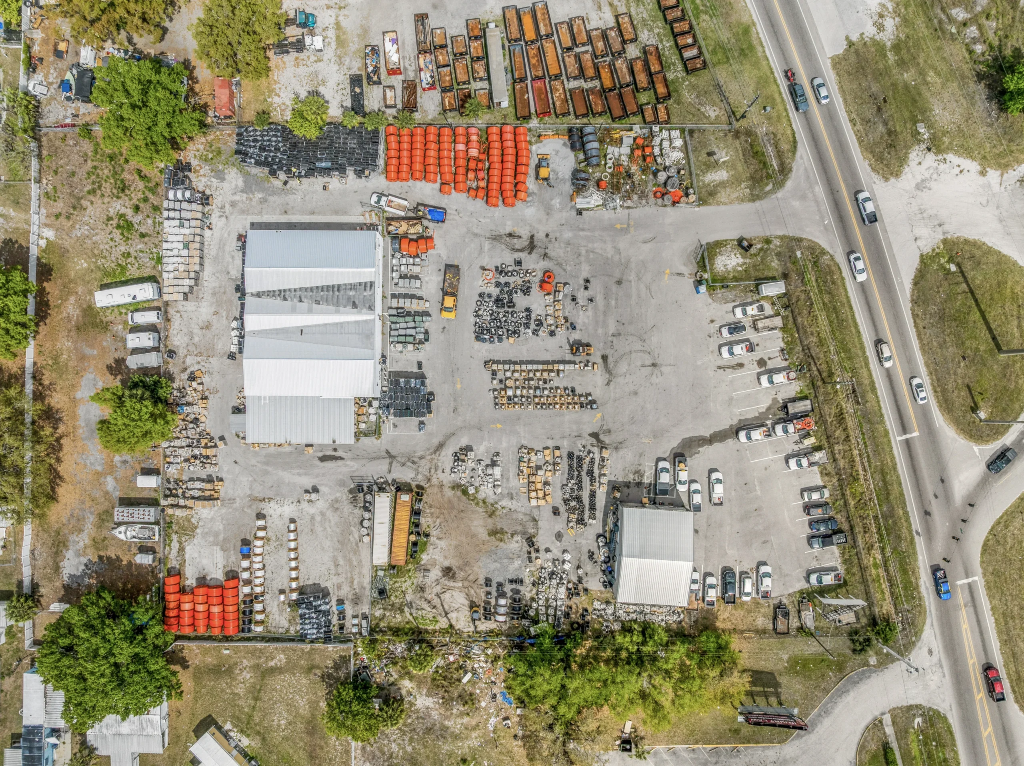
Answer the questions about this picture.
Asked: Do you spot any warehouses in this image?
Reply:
Yes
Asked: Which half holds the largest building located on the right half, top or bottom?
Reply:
bottom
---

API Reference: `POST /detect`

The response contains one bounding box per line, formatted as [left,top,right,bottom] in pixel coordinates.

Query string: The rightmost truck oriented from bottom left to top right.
[983,445,1019,475]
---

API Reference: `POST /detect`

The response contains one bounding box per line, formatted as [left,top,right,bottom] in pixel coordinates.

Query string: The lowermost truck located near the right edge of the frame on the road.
[982,666,1005,703]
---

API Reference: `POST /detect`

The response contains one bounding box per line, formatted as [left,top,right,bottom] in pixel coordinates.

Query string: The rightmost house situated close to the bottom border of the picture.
[189,720,262,766]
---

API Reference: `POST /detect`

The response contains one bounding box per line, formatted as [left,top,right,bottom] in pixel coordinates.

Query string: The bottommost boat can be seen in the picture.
[111,524,164,541]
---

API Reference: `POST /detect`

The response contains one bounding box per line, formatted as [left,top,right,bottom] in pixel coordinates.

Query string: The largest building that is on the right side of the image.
[612,502,693,608]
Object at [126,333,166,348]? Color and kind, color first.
white camper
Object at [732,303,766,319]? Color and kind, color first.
white vehicle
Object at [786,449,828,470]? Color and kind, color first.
white truck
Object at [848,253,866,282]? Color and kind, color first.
white car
